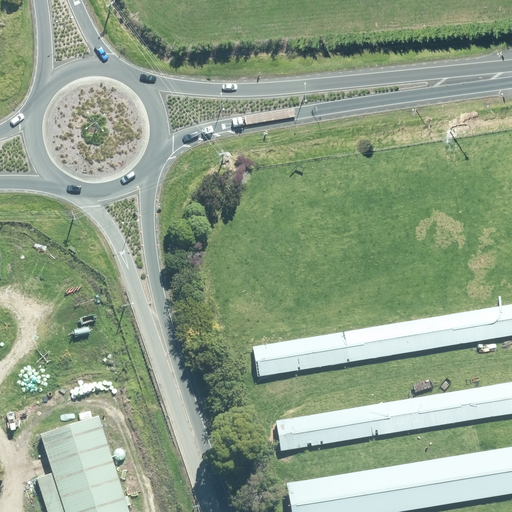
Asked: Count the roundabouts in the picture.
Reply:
one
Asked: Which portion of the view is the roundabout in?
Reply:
top left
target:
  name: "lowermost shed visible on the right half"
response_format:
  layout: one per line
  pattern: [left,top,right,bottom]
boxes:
[287,446,512,512]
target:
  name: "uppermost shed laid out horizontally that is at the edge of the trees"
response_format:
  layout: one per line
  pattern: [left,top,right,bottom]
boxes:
[254,296,512,377]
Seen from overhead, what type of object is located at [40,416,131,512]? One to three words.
barn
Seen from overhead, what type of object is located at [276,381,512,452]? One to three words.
shed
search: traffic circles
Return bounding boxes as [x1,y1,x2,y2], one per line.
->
[18,52,174,207]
